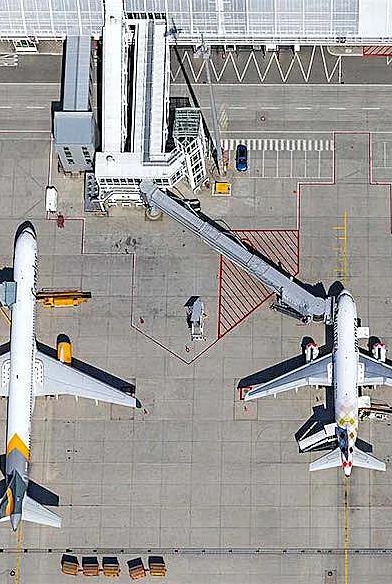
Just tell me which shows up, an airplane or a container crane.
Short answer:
airplane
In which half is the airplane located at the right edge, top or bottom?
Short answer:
bottom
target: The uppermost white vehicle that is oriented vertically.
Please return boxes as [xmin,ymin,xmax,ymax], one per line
[45,188,57,214]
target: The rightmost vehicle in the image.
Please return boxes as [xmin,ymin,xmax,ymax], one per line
[358,403,392,422]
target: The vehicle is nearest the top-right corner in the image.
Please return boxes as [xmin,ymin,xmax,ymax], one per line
[235,145,248,173]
